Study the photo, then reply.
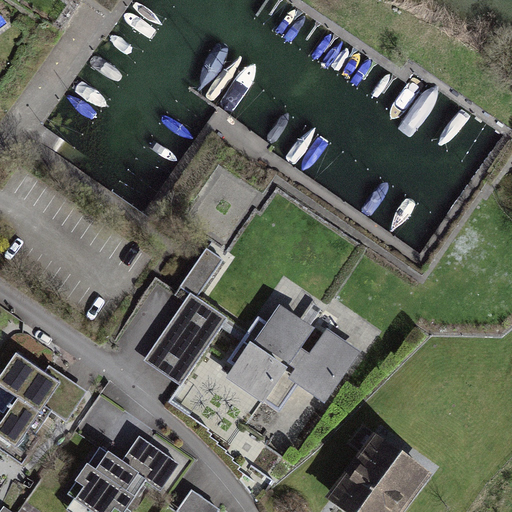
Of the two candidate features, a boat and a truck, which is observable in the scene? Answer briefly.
boat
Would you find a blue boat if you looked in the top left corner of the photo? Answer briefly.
Yes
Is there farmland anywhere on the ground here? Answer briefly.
No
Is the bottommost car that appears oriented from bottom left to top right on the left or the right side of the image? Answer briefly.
left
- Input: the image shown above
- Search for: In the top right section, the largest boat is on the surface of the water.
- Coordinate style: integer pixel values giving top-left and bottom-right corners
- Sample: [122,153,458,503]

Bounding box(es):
[401,85,438,136]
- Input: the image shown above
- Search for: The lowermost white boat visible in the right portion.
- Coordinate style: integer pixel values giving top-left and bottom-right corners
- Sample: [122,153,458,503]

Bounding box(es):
[392,198,417,232]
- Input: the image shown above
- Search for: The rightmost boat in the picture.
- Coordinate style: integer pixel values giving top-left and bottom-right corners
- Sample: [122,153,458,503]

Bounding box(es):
[441,109,470,144]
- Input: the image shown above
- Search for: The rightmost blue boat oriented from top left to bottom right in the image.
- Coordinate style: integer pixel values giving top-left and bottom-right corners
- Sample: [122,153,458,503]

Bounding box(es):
[160,114,193,139]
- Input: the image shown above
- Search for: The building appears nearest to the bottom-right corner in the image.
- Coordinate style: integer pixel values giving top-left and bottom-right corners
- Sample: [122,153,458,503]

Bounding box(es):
[316,432,432,512]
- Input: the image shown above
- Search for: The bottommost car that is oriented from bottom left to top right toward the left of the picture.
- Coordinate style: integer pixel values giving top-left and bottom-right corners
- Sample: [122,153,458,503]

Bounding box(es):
[86,296,106,321]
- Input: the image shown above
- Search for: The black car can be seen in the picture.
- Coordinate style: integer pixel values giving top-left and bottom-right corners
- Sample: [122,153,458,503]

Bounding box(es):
[122,244,140,266]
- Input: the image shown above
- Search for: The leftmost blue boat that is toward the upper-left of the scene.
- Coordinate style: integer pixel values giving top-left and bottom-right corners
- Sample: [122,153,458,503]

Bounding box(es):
[67,96,98,120]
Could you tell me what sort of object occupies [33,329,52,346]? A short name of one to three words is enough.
car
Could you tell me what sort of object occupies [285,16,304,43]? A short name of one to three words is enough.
boat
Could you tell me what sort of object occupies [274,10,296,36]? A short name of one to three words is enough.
boat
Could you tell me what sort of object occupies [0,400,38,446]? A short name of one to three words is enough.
house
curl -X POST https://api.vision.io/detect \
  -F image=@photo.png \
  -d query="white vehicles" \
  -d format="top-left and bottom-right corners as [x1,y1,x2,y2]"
[33,329,52,346]
[4,237,24,261]
[86,296,106,321]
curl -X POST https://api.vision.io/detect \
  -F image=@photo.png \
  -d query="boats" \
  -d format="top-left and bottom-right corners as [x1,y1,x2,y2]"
[110,36,134,54]
[150,142,177,160]
[72,82,108,106]
[285,16,304,43]
[67,96,98,120]
[270,114,289,141]
[392,76,421,119]
[325,42,342,68]
[274,10,296,36]
[441,109,470,144]
[199,44,230,90]
[133,2,162,25]
[222,64,256,112]
[366,182,388,214]
[208,56,240,100]
[392,198,417,232]
[372,74,390,98]
[90,58,122,80]
[124,14,156,42]
[288,128,316,164]
[334,48,348,70]
[401,85,438,136]
[160,114,193,139]
[310,34,330,60]
[304,136,328,170]
[342,53,360,79]
[352,60,370,86]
